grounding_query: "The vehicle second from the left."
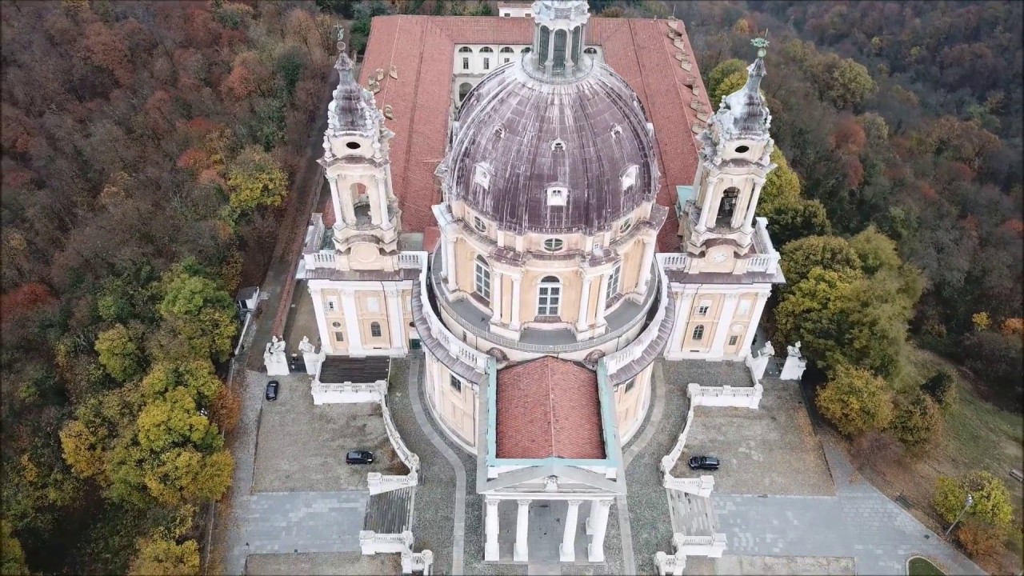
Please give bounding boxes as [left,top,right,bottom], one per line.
[346,450,374,464]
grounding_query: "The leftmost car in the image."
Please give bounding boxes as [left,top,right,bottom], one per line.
[265,380,279,401]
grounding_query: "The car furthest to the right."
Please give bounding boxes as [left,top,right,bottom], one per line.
[688,455,720,470]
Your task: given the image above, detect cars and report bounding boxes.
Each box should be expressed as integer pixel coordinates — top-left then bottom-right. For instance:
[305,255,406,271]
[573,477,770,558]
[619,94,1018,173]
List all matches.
[346,450,374,464]
[265,380,279,401]
[688,455,720,470]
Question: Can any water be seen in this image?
No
